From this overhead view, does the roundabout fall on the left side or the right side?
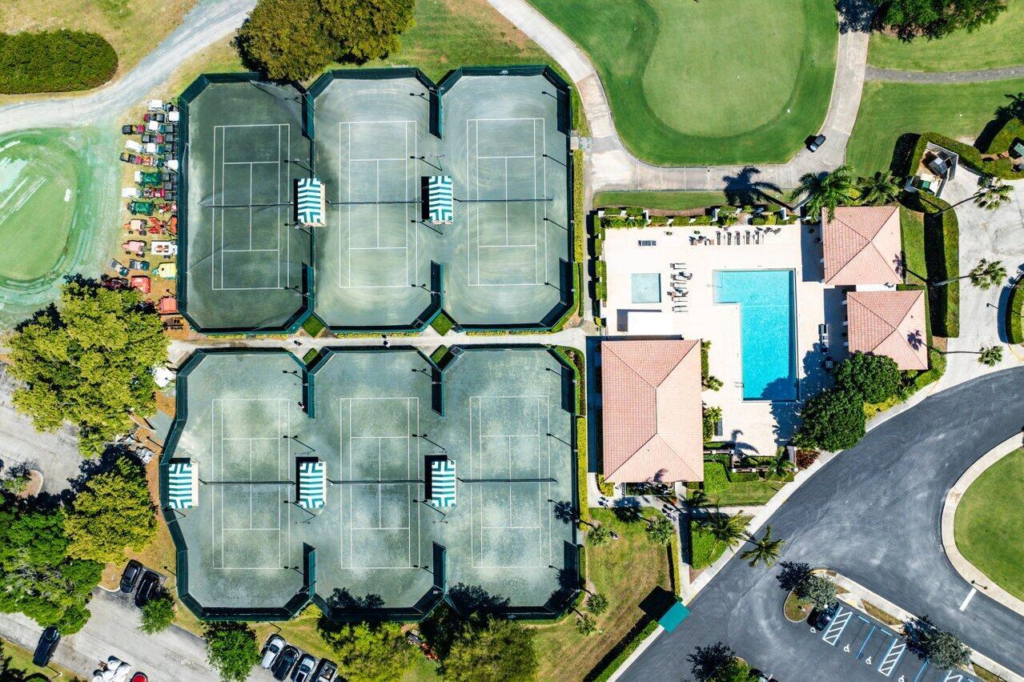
right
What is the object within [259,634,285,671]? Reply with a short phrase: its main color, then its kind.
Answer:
white car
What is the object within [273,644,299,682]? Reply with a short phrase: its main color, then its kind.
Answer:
black car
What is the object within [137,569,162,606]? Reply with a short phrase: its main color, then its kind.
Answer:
black car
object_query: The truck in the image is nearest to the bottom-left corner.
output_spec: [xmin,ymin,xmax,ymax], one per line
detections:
[33,632,62,667]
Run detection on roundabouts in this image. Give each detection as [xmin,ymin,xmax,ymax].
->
[942,432,1024,615]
